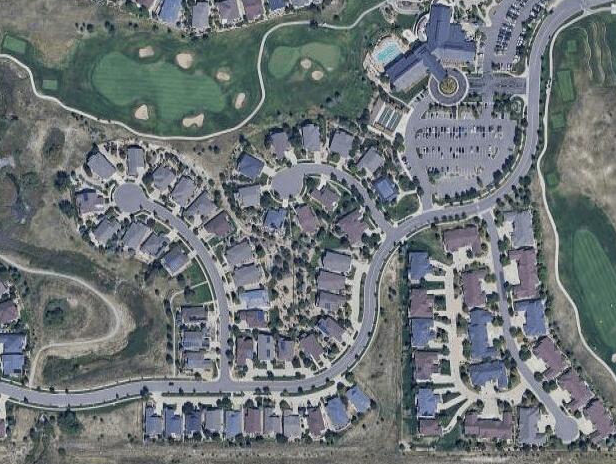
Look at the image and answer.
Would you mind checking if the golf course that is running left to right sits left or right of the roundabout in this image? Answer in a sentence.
The golf course that is running left to right can be seen on the left of the roundabout.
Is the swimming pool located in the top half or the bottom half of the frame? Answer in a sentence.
Seen from above, the swimming pool lies in the top half of the view.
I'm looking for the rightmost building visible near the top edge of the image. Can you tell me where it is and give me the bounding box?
[383,0,477,91]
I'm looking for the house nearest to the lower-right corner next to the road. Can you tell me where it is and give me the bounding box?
[585,399,616,440]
